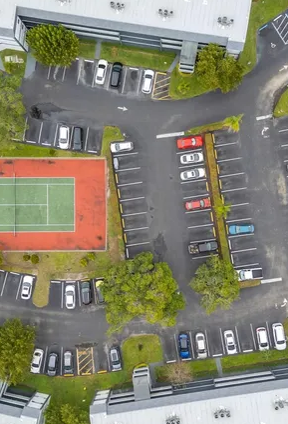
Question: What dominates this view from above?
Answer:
paved ground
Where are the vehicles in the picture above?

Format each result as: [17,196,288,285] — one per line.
[236,268,264,281]
[229,223,255,236]
[109,346,122,371]
[57,125,70,149]
[196,333,207,357]
[257,326,270,350]
[21,275,35,300]
[181,168,205,180]
[109,141,134,153]
[189,240,218,254]
[62,349,74,373]
[224,331,237,355]
[272,324,286,348]
[80,280,91,304]
[95,279,107,303]
[187,198,211,209]
[71,126,84,150]
[177,136,202,148]
[181,152,204,164]
[31,348,44,372]
[46,351,58,375]
[110,62,122,88]
[142,69,154,94]
[64,285,76,308]
[96,60,107,84]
